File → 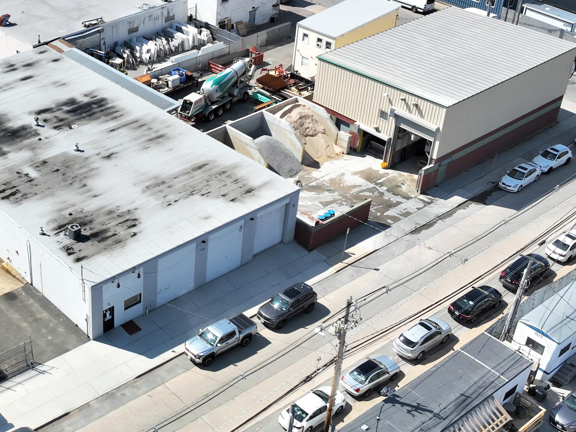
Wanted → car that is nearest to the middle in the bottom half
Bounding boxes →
[259,284,320,330]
